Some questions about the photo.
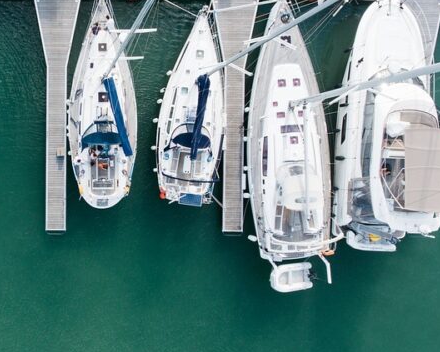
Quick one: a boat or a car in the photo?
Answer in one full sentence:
Of the two, only a boat appears.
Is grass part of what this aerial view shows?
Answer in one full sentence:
No, the picture contains no grass.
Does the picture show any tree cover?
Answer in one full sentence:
No, the picture contains no tree cover.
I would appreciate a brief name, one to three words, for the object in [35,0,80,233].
pier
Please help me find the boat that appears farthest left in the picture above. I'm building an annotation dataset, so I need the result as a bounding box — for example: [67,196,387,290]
[69,0,157,208]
